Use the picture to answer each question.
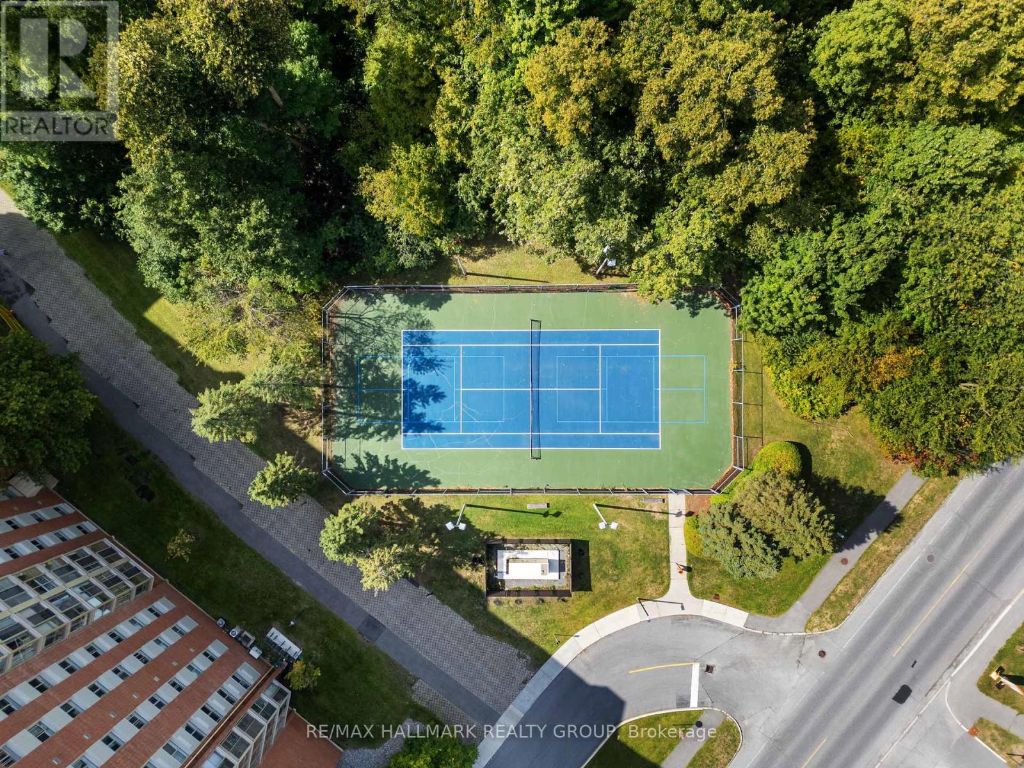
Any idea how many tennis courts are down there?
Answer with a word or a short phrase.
1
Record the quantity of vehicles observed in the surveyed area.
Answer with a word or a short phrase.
0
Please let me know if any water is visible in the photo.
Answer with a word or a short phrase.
No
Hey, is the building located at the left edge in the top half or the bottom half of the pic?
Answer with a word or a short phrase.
bottom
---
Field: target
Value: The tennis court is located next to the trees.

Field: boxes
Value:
[328,287,737,493]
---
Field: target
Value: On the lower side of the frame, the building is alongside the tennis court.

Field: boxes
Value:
[0,457,344,768]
